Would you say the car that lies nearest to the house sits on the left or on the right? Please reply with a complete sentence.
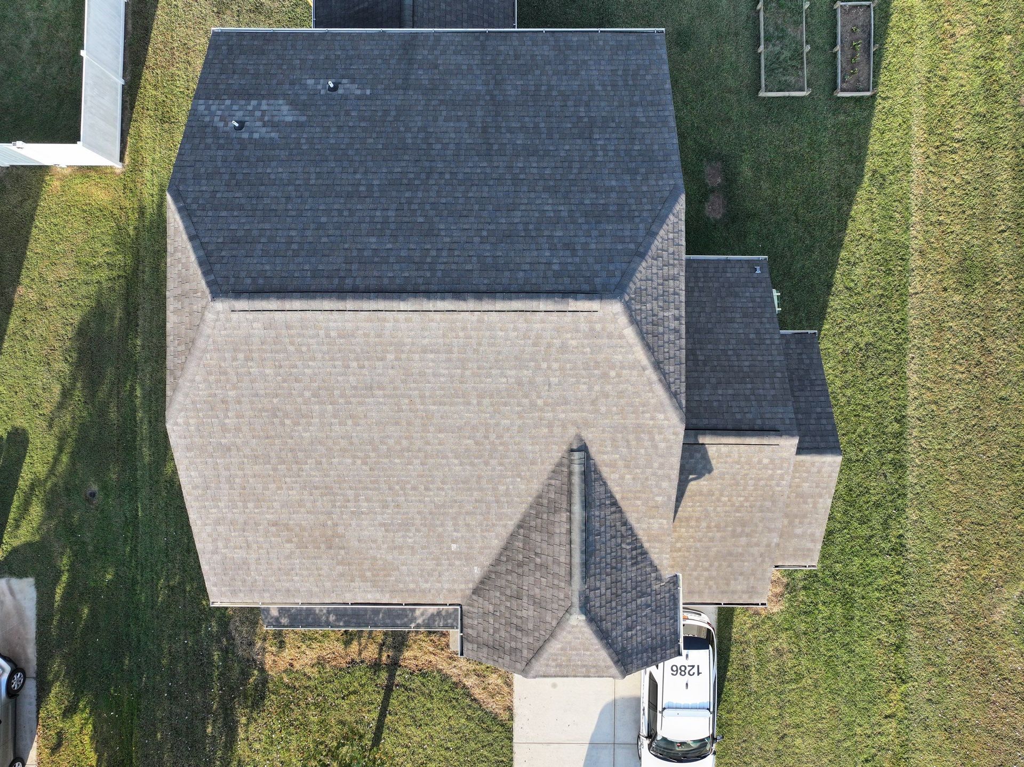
It is on the right.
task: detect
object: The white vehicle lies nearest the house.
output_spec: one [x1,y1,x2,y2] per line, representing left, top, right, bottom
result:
[635,611,727,767]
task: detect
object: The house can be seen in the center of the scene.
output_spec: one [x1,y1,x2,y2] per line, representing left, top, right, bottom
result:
[165,0,843,683]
